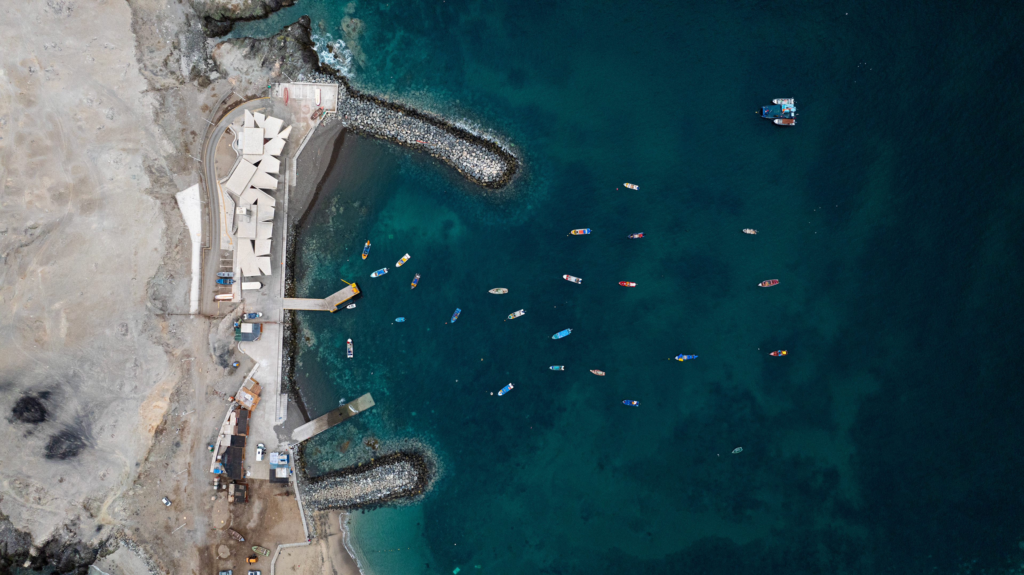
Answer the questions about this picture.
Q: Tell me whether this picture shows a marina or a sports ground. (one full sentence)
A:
This looks like a marina.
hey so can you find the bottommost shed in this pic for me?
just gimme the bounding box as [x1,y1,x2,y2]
[228,480,250,503]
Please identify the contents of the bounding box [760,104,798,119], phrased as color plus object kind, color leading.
blue boat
